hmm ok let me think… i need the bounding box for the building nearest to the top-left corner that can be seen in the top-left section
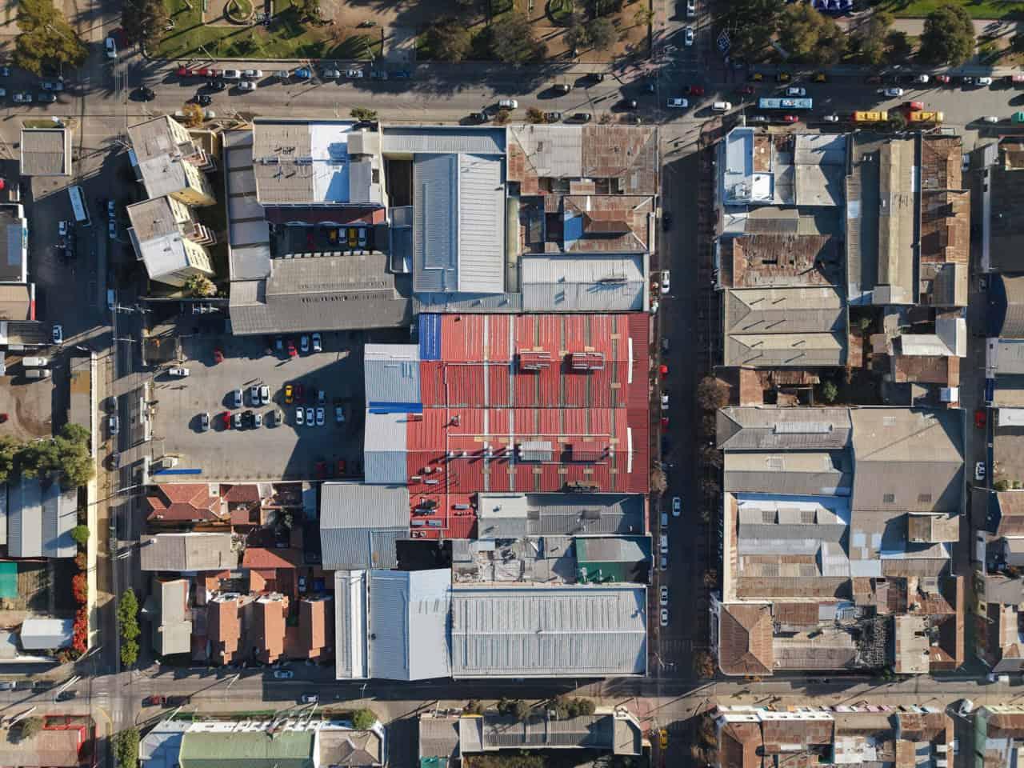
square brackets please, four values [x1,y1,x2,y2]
[20,128,78,181]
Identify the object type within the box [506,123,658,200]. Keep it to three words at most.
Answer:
building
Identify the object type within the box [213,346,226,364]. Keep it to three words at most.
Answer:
vehicle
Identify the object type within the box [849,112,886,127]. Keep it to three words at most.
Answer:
vehicle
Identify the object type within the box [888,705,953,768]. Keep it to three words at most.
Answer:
house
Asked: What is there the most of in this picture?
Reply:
buildings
